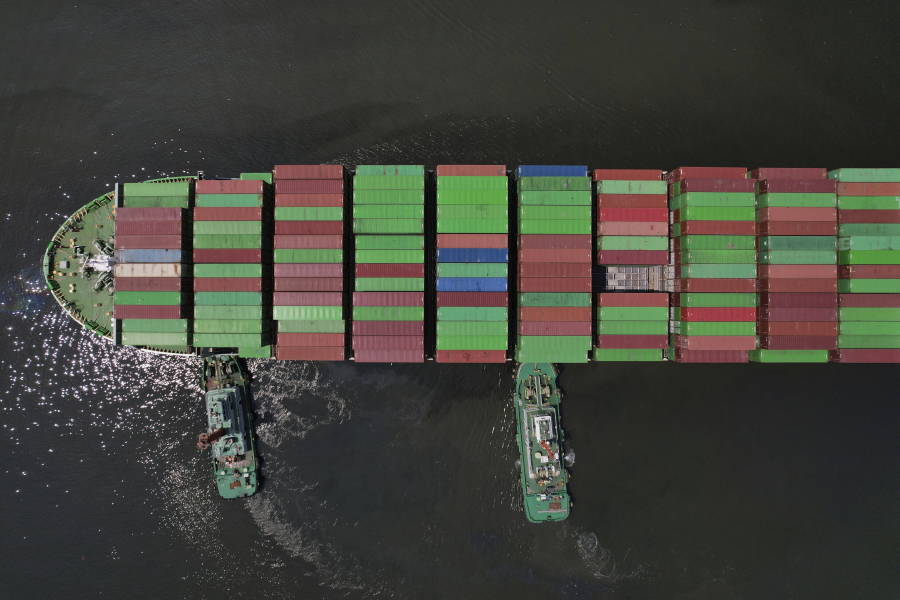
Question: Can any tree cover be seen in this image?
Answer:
No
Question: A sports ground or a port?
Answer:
port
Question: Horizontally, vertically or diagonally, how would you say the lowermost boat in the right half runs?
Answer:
vertically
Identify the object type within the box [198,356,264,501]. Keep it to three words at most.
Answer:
boat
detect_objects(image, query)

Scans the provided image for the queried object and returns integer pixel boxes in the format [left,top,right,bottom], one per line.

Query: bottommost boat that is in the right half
[510,362,574,524]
